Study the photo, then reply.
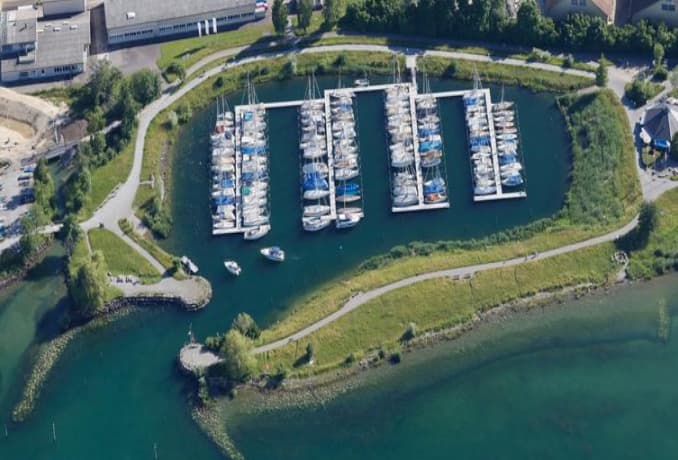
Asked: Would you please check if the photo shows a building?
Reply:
Yes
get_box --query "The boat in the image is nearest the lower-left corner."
[181,255,199,274]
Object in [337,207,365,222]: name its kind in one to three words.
boat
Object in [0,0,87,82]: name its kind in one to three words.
building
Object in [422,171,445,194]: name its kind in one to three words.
boat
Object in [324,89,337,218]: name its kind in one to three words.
pier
